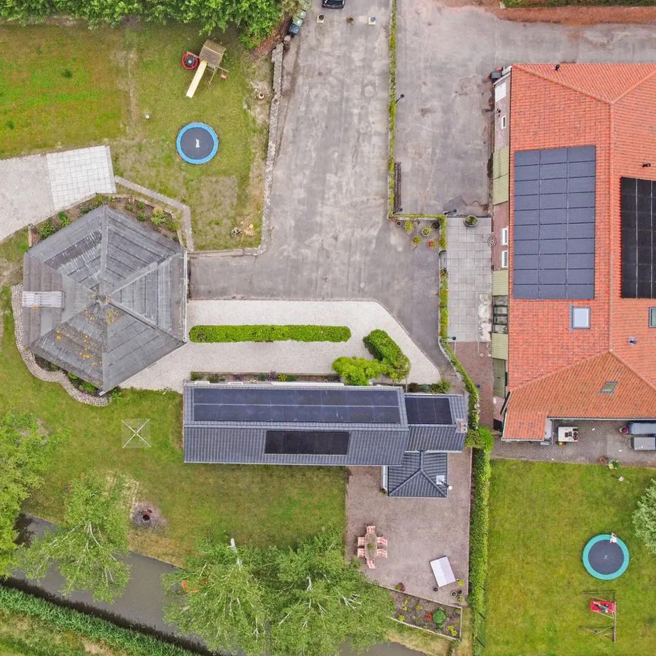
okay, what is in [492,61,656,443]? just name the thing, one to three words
house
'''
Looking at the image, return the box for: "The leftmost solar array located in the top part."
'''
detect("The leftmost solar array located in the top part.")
[513,145,597,300]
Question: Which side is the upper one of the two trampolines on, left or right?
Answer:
left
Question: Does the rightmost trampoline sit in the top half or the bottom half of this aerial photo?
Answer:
bottom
